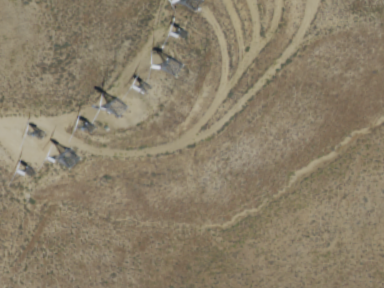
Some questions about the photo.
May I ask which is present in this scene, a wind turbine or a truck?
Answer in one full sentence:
Visible in the photo is a wind turbine.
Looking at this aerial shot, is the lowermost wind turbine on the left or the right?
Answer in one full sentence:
You can find the lowermost wind turbine on the left side of the picture.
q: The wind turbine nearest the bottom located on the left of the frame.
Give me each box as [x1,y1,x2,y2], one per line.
[10,160,38,182]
